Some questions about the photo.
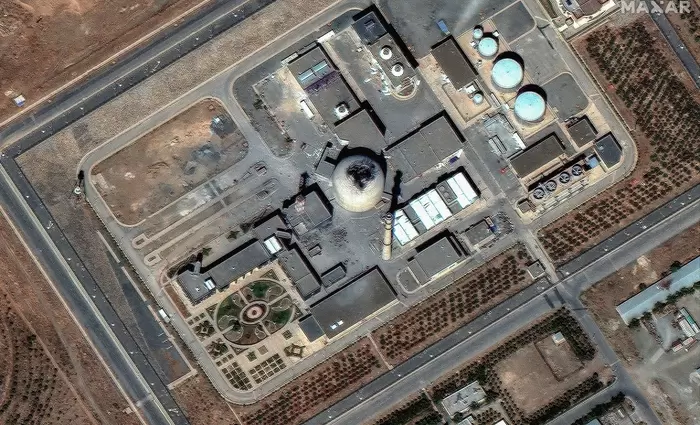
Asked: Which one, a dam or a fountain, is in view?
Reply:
fountain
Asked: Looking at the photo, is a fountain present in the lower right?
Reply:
No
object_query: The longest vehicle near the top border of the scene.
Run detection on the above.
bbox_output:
[436,18,450,36]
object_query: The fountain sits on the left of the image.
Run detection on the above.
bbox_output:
[240,299,268,325]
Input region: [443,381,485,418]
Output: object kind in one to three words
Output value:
house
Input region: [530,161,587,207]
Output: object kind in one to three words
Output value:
cooling tower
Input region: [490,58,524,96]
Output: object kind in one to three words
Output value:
storage tank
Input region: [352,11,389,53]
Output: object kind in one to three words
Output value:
building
